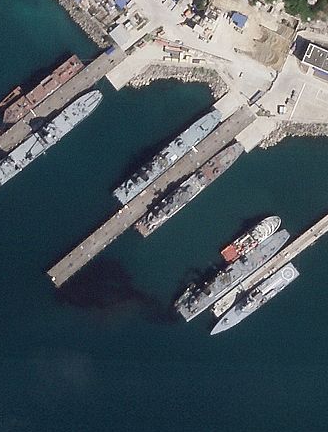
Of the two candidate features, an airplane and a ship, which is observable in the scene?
ship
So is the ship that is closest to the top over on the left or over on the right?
left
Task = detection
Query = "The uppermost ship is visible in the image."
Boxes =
[4,55,84,123]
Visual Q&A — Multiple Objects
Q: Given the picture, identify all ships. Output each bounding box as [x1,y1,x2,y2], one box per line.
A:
[135,145,242,237]
[220,217,280,263]
[114,113,222,205]
[176,230,289,321]
[210,263,299,335]
[0,93,102,187]
[4,55,84,123]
